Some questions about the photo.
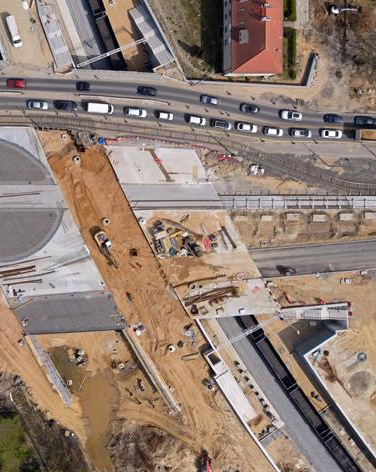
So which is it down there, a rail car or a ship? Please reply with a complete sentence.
This aerial view contains a rail car.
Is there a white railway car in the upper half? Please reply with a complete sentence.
No, no white railway car appears in the upper half.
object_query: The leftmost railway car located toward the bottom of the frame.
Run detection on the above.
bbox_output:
[234,316,260,338]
